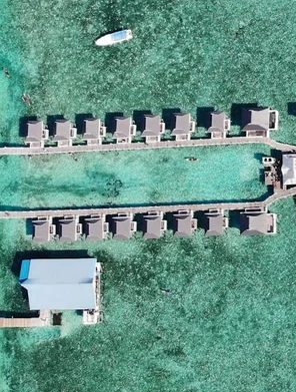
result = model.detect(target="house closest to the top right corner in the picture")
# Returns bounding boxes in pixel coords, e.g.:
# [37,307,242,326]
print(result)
[241,106,278,137]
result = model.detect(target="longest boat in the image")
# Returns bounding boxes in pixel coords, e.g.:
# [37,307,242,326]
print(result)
[94,29,135,44]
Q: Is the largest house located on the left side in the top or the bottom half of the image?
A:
bottom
